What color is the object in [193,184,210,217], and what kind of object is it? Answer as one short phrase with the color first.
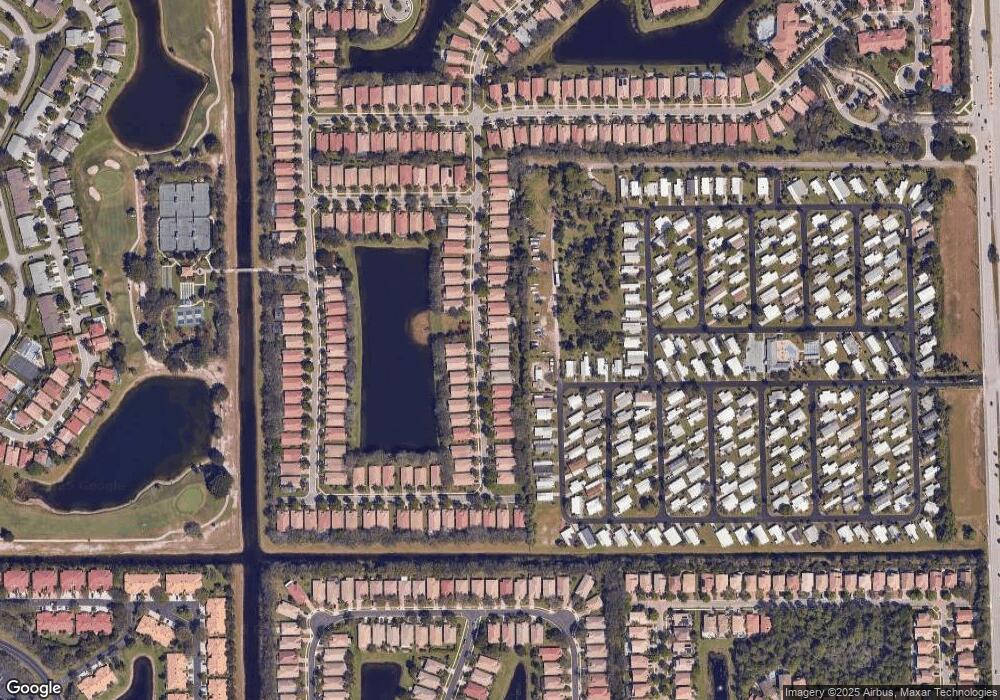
gray tennis court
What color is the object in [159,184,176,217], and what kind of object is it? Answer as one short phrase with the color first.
gray tennis court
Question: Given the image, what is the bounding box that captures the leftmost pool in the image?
[24,341,45,368]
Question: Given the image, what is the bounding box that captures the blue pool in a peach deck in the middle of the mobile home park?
[776,340,800,363]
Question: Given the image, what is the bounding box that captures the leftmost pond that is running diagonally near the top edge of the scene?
[348,0,462,72]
